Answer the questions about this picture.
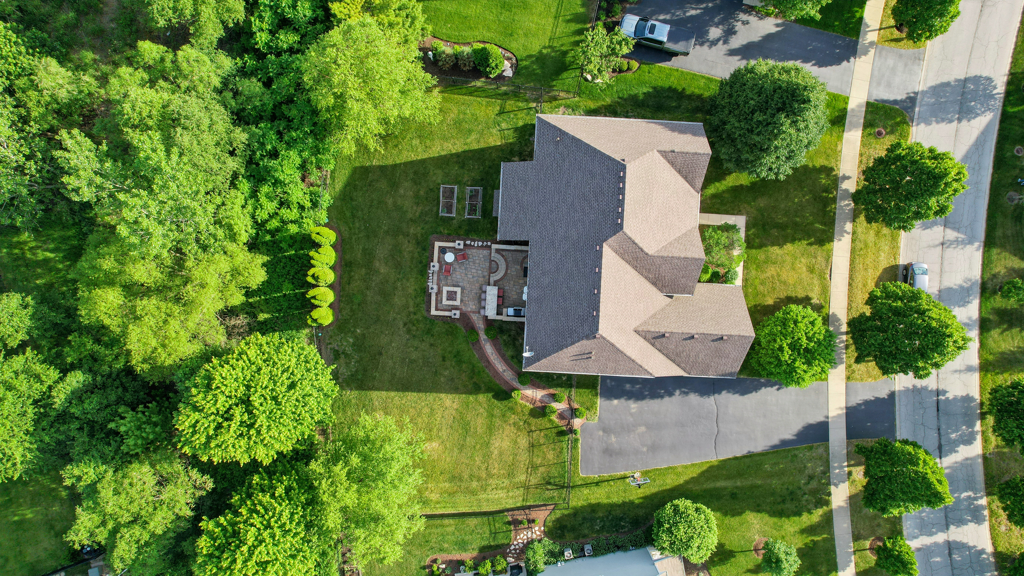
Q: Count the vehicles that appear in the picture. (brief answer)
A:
2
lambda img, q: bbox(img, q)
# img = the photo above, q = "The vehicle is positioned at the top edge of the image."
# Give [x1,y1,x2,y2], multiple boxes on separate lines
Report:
[621,13,693,56]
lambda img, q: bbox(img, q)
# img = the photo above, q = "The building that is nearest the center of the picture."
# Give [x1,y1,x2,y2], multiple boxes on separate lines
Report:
[493,113,755,380]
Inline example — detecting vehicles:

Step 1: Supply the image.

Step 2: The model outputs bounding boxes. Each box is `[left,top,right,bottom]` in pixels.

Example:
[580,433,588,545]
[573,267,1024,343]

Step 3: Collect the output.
[903,262,930,303]
[621,13,693,56]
